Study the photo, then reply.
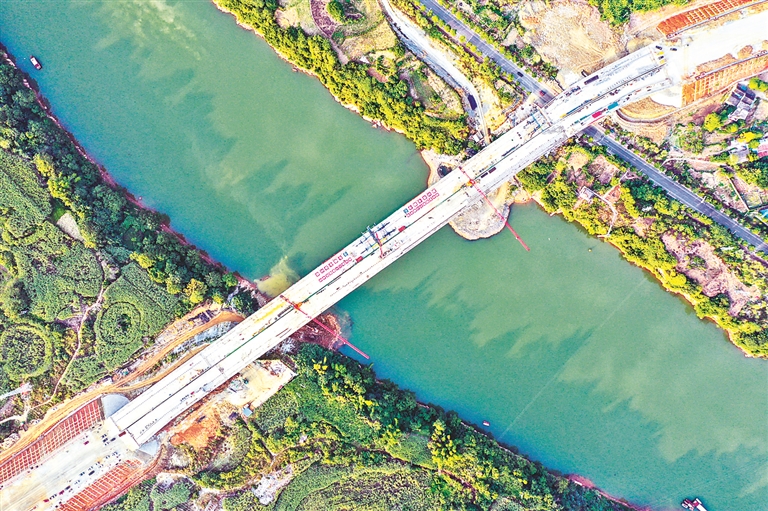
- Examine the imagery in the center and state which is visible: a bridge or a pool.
bridge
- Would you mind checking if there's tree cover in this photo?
Yes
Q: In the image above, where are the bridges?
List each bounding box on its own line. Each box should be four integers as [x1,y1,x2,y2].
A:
[110,43,674,447]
